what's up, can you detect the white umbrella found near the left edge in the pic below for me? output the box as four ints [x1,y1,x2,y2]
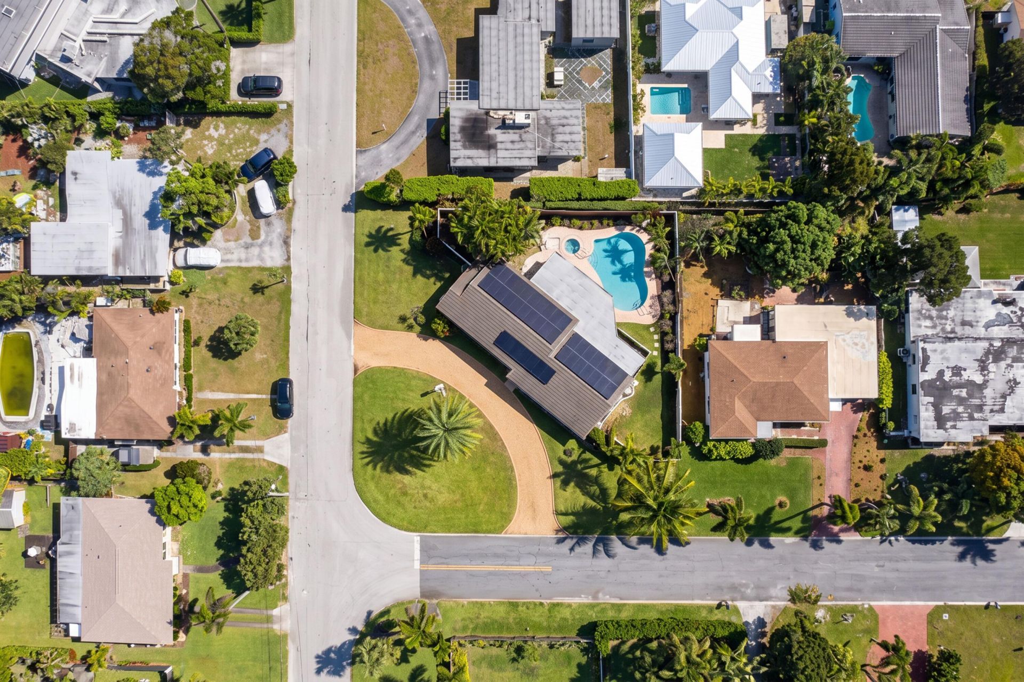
[26,543,48,559]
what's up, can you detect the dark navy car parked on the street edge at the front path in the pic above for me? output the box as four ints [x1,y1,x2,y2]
[273,377,295,420]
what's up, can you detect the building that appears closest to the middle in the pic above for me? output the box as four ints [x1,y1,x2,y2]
[436,252,645,439]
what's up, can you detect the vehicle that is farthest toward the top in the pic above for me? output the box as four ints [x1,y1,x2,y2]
[239,74,282,97]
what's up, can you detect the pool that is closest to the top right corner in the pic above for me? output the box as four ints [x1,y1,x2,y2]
[845,73,875,143]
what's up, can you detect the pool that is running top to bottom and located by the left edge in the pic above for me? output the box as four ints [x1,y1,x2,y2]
[0,329,39,420]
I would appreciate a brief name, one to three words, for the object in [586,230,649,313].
swimming pool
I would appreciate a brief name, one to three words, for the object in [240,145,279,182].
car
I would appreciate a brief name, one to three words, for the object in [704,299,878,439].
house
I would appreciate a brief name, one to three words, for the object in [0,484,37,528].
shed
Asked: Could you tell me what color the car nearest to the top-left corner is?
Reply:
black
